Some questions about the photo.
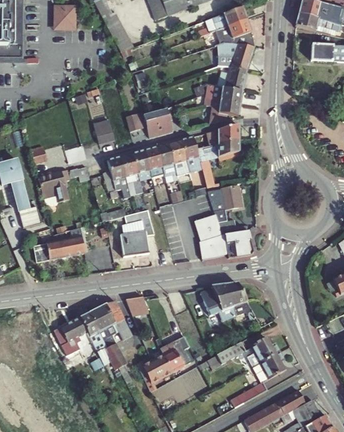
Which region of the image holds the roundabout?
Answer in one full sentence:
The roundabout sits in the right section of the image.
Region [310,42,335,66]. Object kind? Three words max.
house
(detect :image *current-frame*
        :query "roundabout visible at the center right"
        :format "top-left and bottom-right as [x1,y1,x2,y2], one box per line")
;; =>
[266,166,340,240]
